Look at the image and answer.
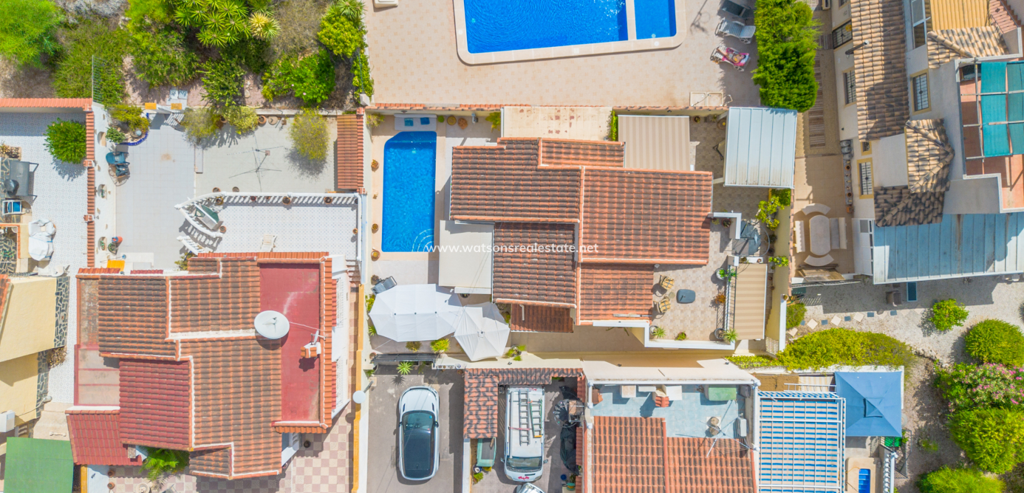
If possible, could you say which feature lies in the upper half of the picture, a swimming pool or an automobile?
swimming pool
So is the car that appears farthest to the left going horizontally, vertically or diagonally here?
vertically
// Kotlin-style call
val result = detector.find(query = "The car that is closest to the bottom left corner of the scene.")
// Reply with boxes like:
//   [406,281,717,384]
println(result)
[395,382,441,481]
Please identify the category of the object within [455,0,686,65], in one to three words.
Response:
swimming pool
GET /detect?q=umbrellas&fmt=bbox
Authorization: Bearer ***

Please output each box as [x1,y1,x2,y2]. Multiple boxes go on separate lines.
[833,372,902,437]
[712,143,725,159]
[370,284,463,342]
[454,302,509,361]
